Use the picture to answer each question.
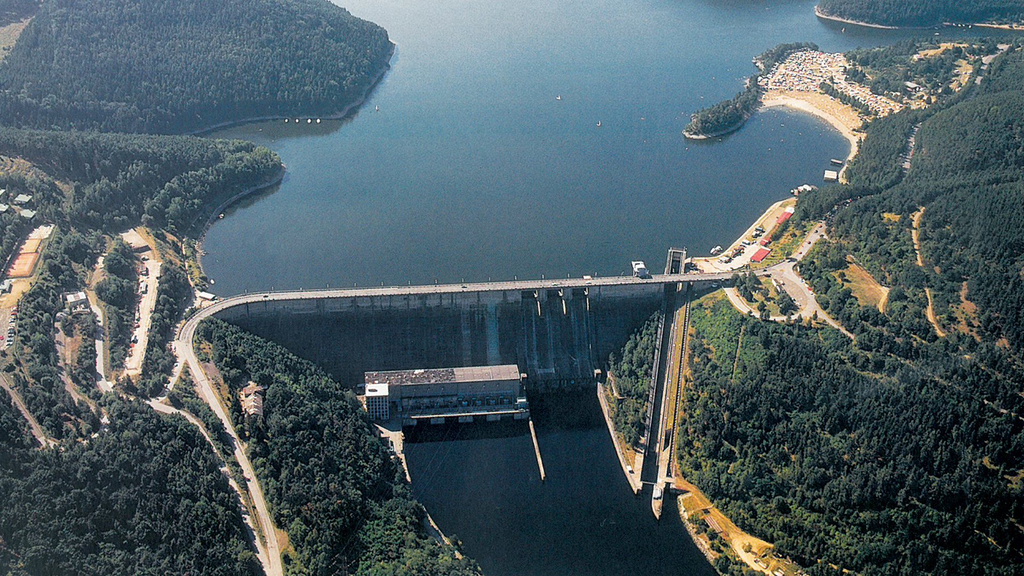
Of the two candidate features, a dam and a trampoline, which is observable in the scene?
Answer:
dam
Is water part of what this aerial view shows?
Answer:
Yes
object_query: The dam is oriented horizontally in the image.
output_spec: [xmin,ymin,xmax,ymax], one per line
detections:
[175,268,747,399]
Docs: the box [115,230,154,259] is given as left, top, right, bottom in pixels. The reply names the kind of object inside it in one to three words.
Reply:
building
